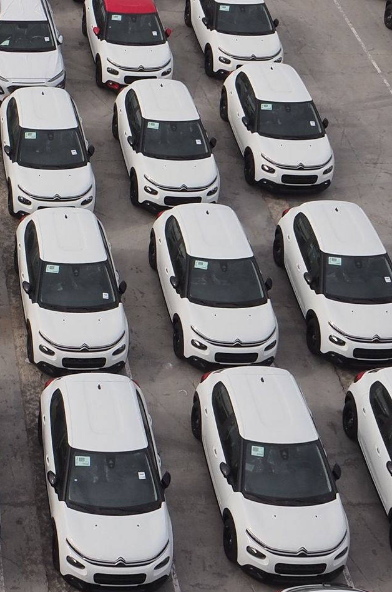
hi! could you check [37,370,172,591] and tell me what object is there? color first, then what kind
white car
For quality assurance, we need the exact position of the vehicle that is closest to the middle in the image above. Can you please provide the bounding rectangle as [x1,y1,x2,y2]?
[150,199,277,368]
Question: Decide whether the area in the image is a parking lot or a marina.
parking lot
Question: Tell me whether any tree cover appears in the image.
No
